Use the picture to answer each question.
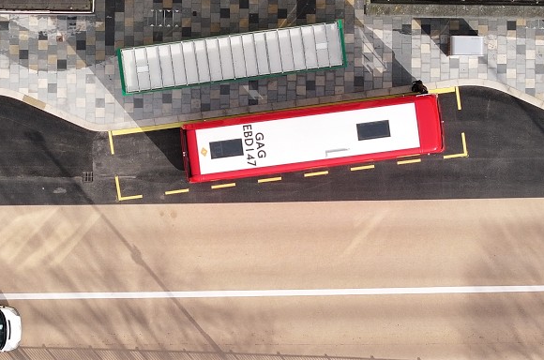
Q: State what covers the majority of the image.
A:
paved ground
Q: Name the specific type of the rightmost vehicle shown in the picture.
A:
bus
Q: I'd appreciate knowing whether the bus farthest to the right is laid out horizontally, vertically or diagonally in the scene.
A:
horizontally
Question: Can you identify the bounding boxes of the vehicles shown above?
[175,91,447,183]
[0,301,22,351]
